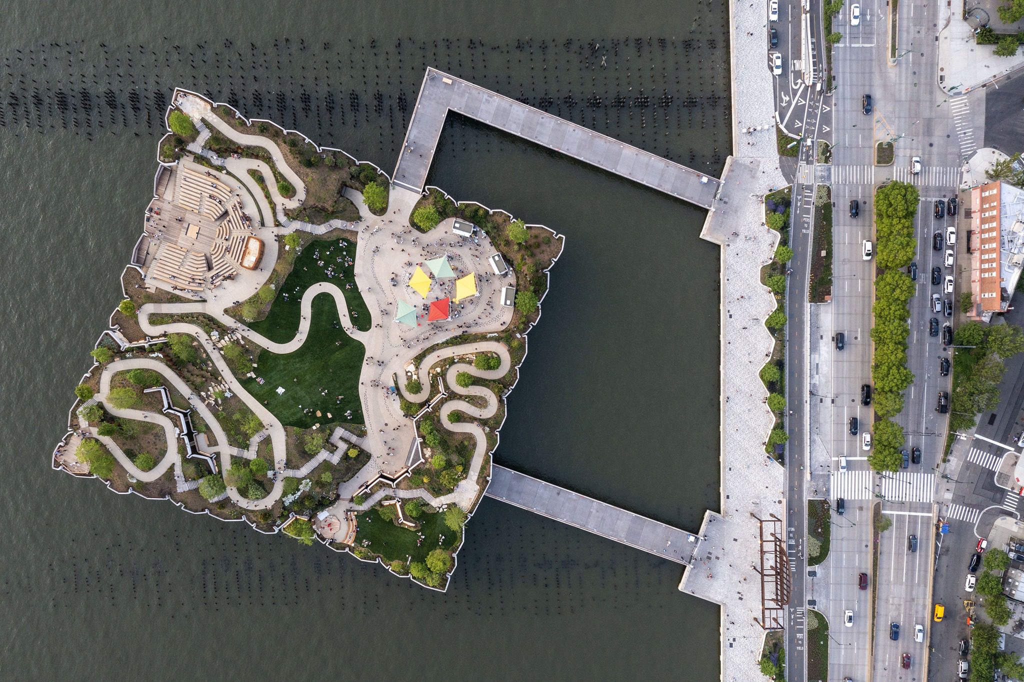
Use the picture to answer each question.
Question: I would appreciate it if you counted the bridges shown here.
2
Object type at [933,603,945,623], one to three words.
vehicle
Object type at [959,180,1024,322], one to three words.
building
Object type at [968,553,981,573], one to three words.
vehicle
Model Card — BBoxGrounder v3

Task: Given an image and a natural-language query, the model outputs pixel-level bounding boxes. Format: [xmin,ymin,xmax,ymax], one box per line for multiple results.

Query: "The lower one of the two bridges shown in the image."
[484,463,702,567]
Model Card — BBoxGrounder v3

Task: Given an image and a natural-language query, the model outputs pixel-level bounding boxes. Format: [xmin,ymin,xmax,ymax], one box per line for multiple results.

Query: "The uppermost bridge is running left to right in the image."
[391,67,722,210]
